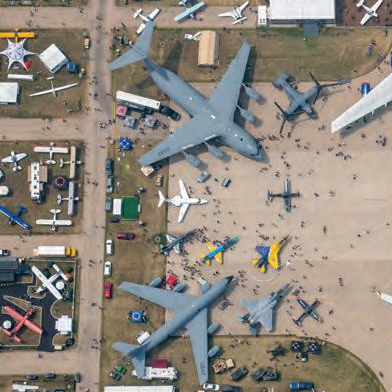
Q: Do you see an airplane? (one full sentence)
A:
Yes, there's an airplane here.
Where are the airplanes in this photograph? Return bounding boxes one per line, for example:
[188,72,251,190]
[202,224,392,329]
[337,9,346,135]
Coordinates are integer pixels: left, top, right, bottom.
[249,236,288,274]
[0,27,34,48]
[157,178,208,221]
[272,71,345,129]
[220,1,250,24]
[59,146,82,178]
[356,0,382,25]
[198,237,239,268]
[33,142,67,163]
[0,202,30,234]
[175,0,205,22]
[57,180,80,215]
[105,22,264,172]
[268,178,302,211]
[237,283,290,336]
[28,75,78,97]
[133,7,158,32]
[36,209,71,230]
[114,273,234,386]
[2,304,43,344]
[290,298,321,328]
[32,264,67,301]
[0,150,27,171]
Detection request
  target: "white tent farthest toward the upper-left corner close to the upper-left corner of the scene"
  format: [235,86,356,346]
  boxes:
[0,33,38,71]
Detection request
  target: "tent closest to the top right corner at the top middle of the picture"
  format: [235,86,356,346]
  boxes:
[199,30,217,68]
